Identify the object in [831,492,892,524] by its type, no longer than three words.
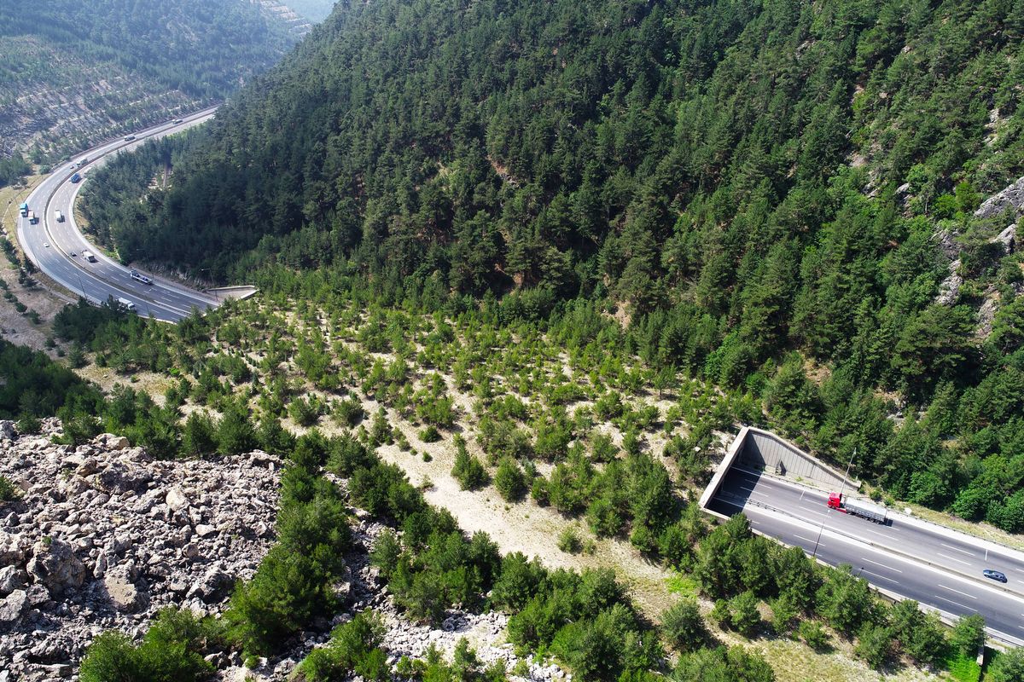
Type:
truck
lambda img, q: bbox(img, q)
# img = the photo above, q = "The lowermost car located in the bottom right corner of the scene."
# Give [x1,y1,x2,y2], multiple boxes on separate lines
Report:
[985,570,1009,584]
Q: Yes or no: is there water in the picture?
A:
No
